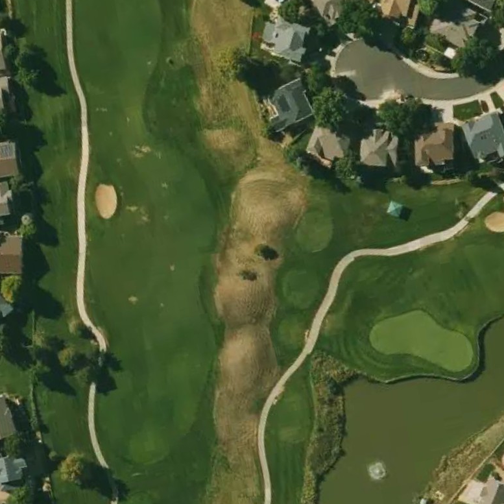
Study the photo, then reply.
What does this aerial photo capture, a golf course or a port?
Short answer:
golf course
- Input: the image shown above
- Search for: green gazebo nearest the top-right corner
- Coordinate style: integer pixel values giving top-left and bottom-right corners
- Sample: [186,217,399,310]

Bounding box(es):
[387,200,405,218]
